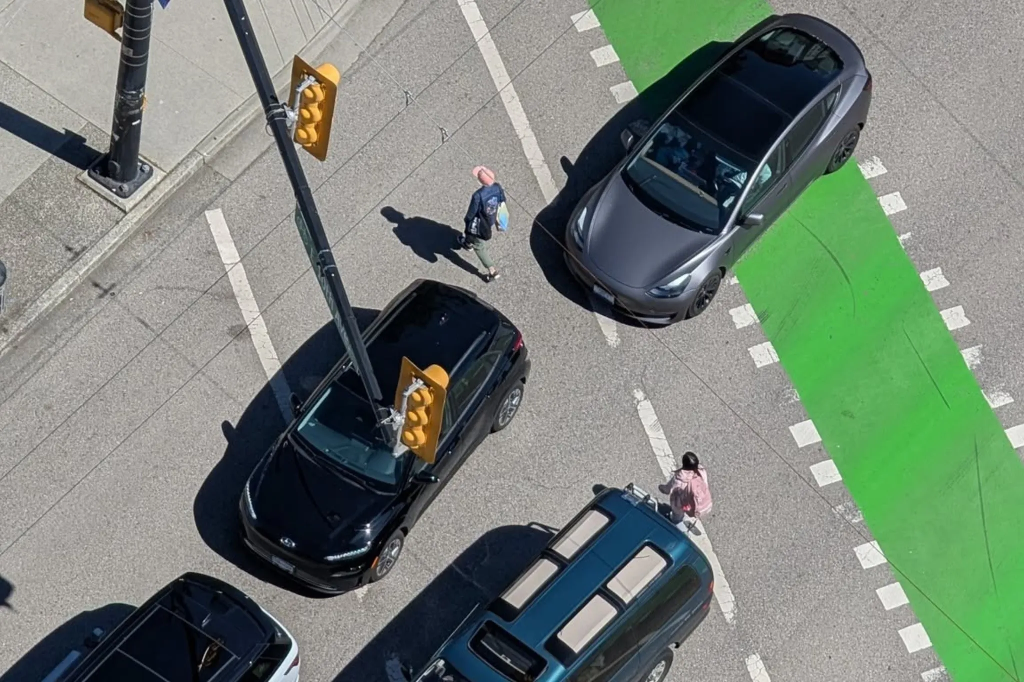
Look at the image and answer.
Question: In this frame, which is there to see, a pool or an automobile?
automobile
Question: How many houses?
0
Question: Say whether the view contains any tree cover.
No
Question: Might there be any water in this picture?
No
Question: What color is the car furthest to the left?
black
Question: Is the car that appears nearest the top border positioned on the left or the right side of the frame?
right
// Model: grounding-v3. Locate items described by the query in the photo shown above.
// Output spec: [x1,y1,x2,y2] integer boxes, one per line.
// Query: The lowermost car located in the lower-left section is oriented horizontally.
[63,574,303,682]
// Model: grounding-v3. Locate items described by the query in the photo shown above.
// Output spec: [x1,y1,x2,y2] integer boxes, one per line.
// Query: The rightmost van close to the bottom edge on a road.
[385,476,708,682]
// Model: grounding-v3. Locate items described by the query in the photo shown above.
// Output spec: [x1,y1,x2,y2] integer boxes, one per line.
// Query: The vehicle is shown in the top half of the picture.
[563,11,874,323]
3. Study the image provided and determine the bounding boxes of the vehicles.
[385,476,708,682]
[232,274,537,592]
[63,574,303,682]
[563,11,874,323]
